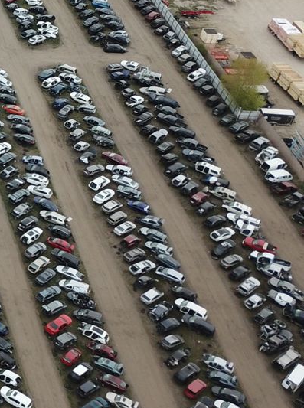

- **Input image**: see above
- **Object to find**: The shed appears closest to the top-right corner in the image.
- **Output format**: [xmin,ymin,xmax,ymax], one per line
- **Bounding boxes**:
[236,47,265,67]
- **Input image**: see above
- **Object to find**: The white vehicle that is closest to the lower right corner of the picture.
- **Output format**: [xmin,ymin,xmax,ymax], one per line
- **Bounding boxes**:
[276,364,304,392]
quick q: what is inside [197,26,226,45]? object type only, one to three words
shed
